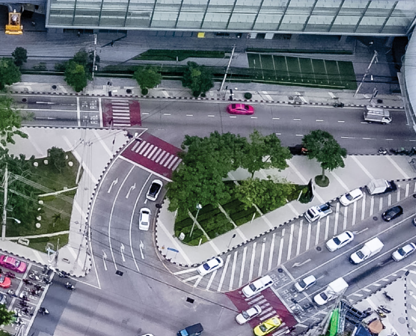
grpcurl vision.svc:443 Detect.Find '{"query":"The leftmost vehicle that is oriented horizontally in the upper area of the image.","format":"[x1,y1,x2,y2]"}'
[227,104,254,116]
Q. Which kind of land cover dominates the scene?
paved ground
